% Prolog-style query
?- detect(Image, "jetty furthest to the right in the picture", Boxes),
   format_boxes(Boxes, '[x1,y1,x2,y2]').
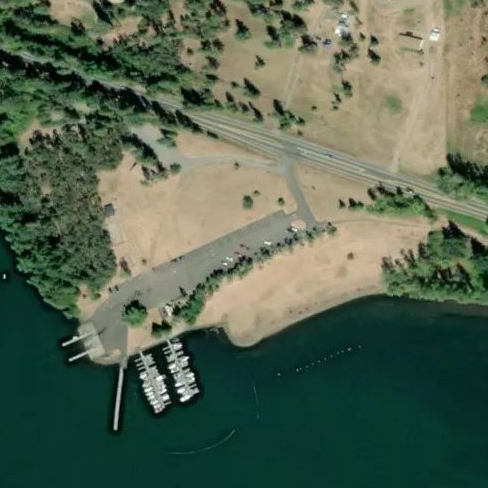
[162,339,196,396]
